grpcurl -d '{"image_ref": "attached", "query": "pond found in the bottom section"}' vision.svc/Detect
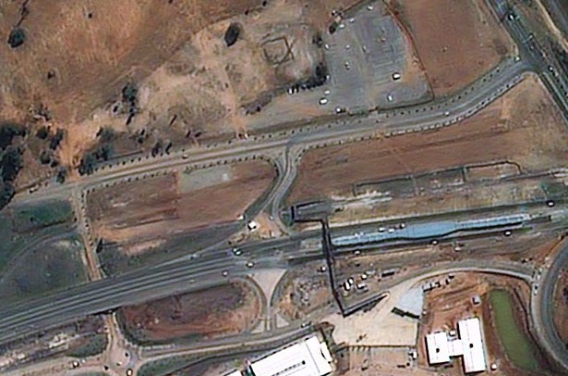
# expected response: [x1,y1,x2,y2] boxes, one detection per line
[493,289,537,370]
